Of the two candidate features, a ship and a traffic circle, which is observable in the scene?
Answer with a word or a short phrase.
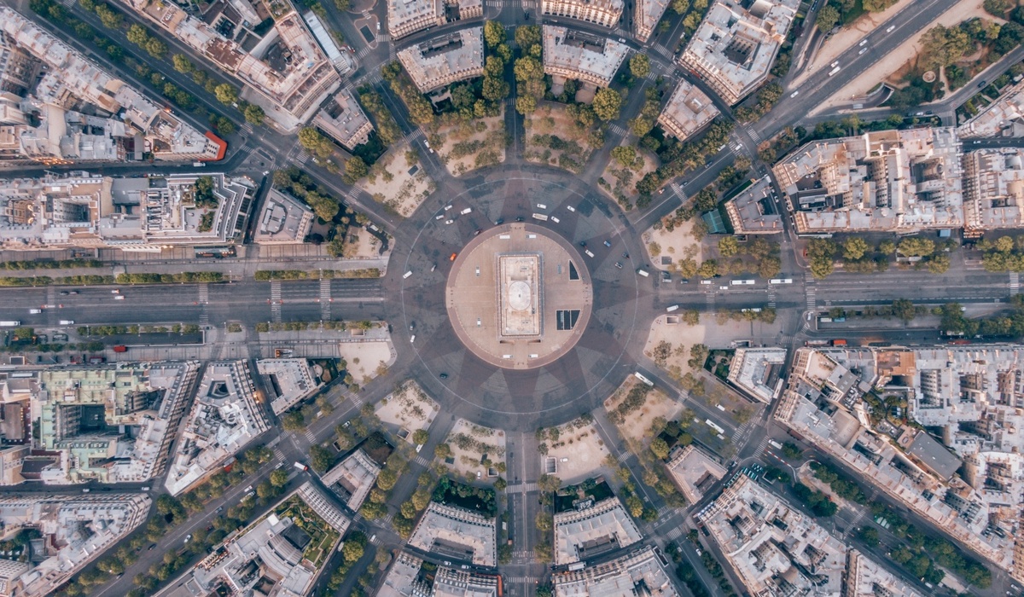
traffic circle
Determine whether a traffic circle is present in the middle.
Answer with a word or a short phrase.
Yes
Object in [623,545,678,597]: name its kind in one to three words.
building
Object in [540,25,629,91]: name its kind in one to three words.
building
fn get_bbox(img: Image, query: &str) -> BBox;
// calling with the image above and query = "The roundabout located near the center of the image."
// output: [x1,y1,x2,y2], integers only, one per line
[386,163,652,429]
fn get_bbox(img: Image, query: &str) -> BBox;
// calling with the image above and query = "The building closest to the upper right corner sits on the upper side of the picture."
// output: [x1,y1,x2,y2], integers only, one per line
[962,84,1024,145]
